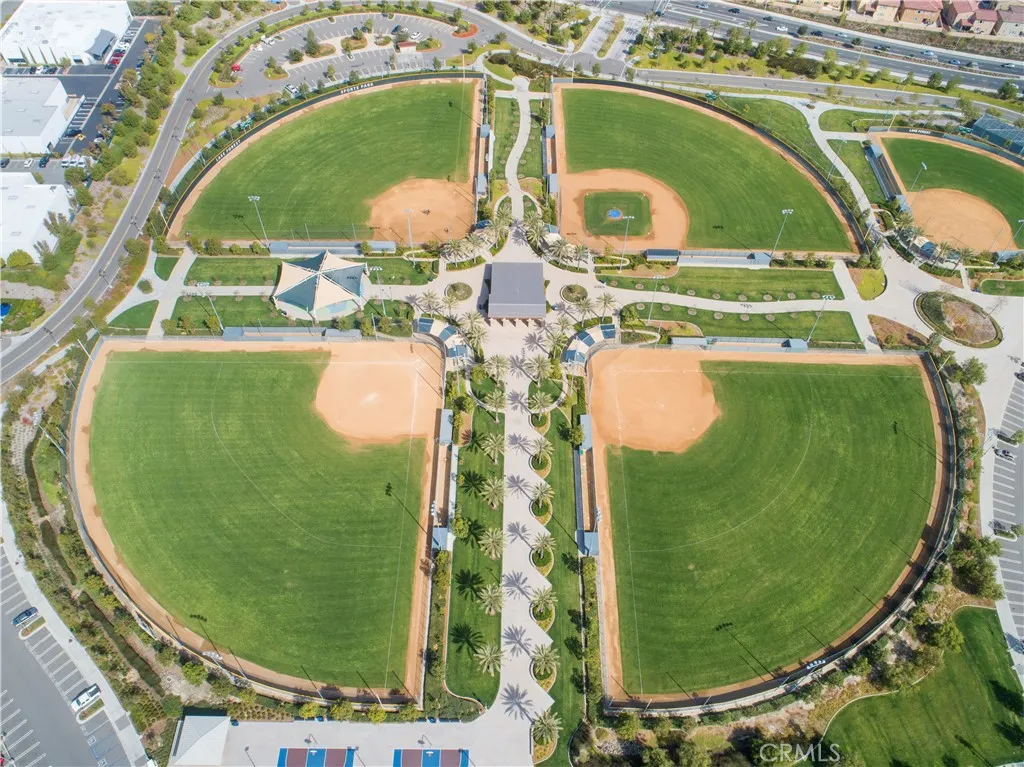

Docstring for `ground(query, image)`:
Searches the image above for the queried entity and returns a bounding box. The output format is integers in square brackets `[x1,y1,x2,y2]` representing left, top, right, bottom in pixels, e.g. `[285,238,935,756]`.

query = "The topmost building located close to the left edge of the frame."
[0,1,136,64]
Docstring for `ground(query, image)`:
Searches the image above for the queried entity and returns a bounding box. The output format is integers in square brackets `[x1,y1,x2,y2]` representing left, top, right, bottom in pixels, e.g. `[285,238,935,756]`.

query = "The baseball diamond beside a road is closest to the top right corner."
[871,131,1024,253]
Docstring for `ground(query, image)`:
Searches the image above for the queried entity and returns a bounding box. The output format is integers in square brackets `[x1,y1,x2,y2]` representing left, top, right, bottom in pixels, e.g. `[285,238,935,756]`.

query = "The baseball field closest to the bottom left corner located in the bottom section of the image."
[74,338,443,708]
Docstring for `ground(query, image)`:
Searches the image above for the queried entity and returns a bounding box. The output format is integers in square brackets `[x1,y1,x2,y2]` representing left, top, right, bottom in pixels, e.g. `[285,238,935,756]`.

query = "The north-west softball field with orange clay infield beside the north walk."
[168,76,482,244]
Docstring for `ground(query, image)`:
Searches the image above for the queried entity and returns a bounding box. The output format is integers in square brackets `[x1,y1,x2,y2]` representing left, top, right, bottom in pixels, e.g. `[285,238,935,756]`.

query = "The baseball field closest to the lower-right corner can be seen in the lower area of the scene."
[587,347,952,715]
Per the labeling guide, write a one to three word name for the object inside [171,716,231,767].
building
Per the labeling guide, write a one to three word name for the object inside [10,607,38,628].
car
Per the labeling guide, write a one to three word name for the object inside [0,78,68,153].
building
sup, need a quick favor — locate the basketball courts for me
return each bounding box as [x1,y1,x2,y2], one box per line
[392,748,469,767]
[276,748,355,767]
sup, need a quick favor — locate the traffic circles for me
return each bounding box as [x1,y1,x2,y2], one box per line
[915,289,1004,347]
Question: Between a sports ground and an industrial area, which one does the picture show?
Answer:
sports ground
